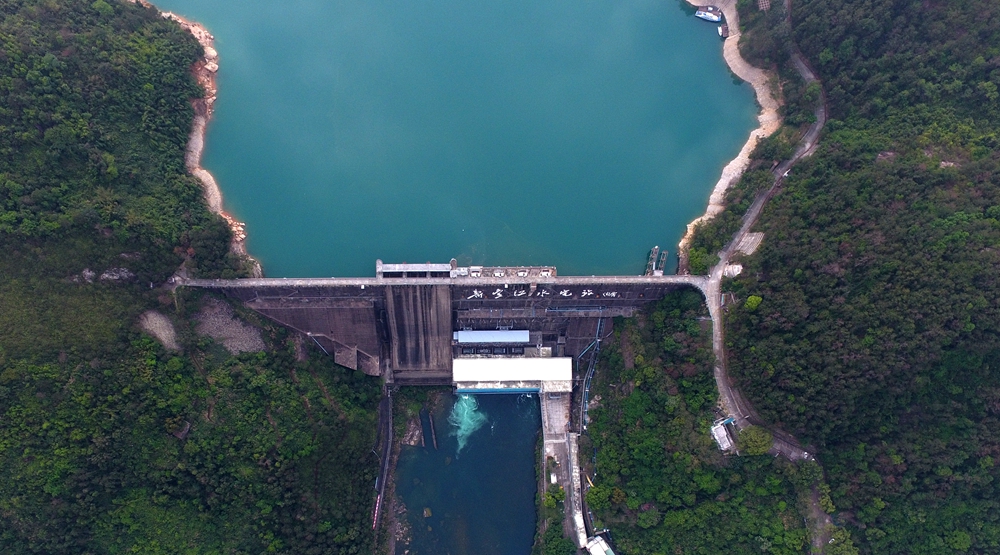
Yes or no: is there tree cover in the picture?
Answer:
Yes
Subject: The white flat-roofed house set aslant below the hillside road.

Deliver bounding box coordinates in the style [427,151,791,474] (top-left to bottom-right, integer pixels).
[710,418,738,457]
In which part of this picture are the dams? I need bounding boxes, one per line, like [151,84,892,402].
[185,259,716,387]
